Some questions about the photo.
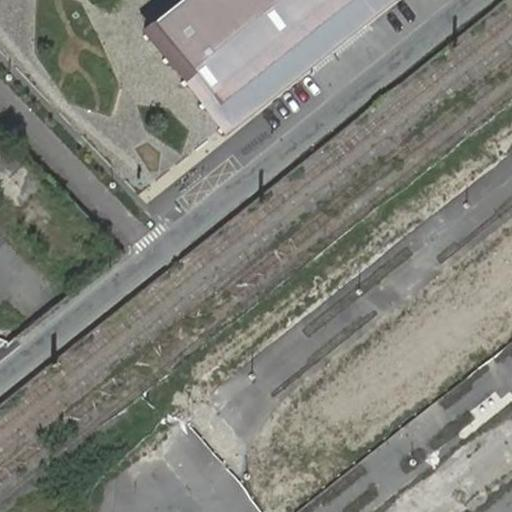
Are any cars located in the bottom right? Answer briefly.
No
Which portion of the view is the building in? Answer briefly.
top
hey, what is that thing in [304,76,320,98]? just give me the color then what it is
white car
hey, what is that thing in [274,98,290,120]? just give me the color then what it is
gray car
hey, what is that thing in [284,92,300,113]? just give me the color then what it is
white car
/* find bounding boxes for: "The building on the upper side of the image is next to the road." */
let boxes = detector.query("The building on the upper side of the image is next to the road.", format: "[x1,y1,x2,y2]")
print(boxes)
[144,0,399,132]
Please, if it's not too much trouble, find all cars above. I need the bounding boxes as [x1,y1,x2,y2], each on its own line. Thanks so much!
[397,0,416,24]
[284,92,300,113]
[294,84,310,104]
[274,98,290,120]
[304,76,320,98]
[386,12,403,32]
[263,108,280,130]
